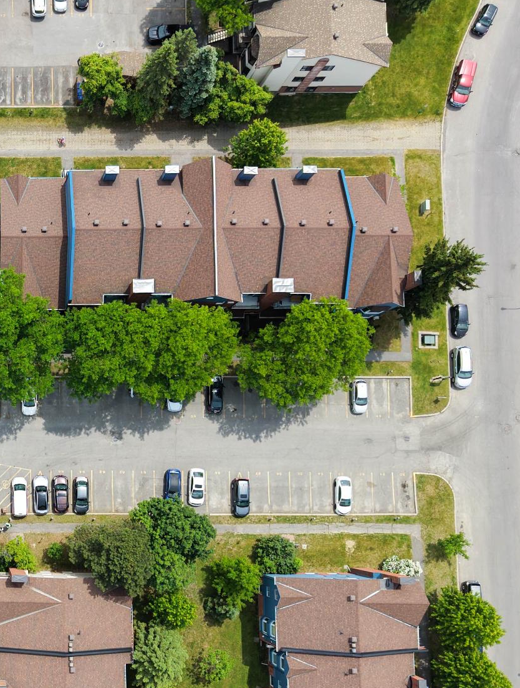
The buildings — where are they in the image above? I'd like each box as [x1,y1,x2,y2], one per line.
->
[206,0,393,102]
[0,155,423,326]
[257,561,431,688]
[0,561,134,688]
